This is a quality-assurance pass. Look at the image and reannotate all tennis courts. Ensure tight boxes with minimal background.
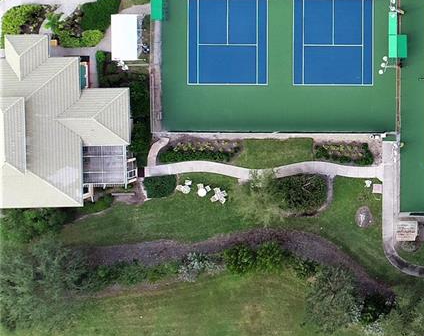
[281,0,396,132]
[400,0,424,213]
[161,0,281,132]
